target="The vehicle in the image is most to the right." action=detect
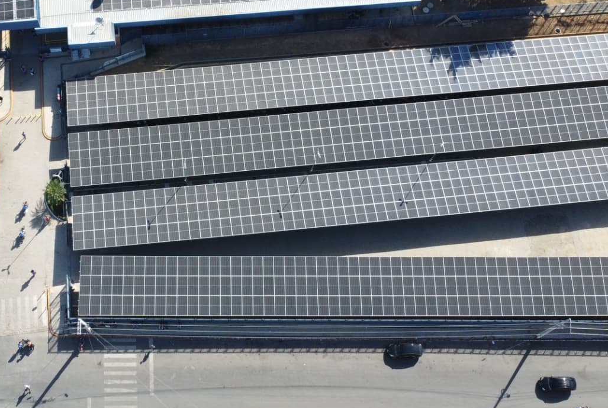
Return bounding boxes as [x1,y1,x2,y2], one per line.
[536,377,580,396]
